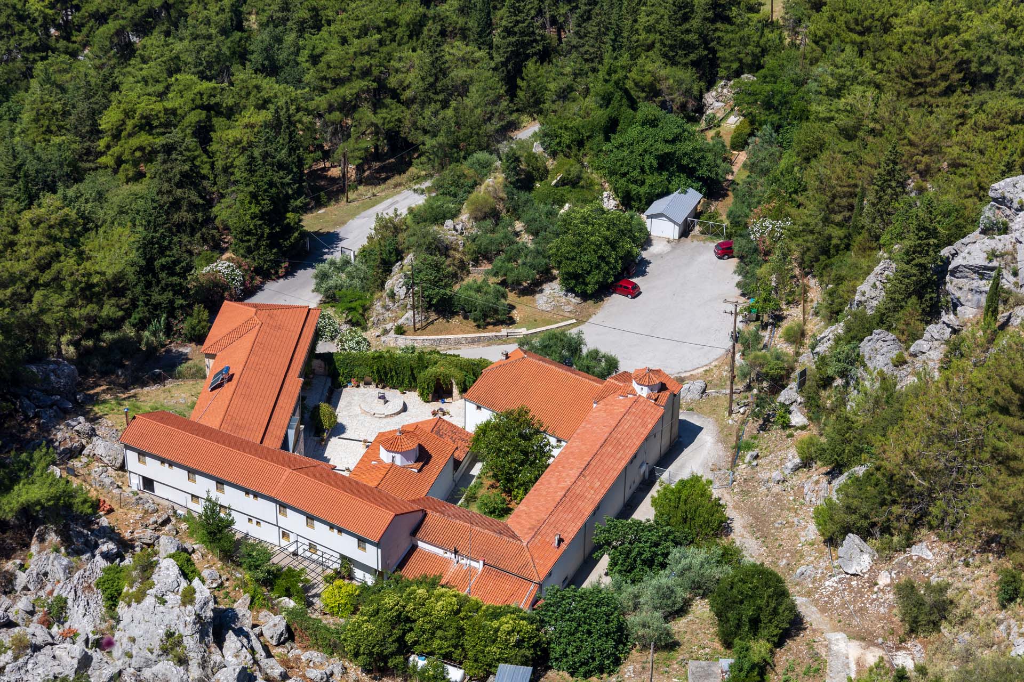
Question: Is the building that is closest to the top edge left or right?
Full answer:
The building that is closest to the top edge is on the right side of the image.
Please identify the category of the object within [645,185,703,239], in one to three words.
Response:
building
